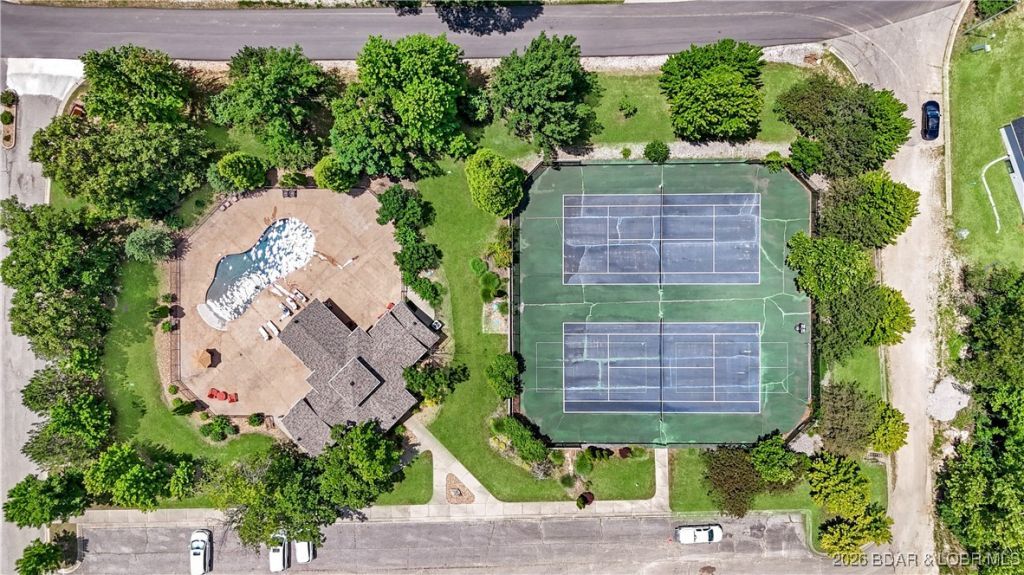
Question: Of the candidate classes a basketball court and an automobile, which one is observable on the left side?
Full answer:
What appears on the left side is an automobile.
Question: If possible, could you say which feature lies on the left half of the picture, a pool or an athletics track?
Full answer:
It is a pool that can be seen on the left half of the picture.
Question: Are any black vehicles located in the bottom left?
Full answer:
No, there is no black vehicle in the bottom left.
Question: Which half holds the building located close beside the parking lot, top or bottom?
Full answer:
It is in the bottom half that the building located close beside the parking lot appears.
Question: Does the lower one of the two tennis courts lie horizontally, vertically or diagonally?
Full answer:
The lower one of the two tennis courts is laid out horizontally.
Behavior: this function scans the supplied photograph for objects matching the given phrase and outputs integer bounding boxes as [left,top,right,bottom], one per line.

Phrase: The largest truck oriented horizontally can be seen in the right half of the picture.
[675,523,722,545]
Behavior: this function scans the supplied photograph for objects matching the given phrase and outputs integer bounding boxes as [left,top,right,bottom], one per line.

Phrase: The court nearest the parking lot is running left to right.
[534,314,787,423]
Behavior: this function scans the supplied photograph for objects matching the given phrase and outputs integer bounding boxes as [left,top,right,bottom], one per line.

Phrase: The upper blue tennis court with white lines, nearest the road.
[563,184,761,293]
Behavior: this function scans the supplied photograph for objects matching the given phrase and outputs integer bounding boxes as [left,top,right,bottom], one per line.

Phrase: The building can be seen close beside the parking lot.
[278,298,440,456]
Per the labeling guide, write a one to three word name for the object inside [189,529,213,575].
car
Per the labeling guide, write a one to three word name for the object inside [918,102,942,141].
car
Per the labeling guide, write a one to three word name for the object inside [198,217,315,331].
swimming pool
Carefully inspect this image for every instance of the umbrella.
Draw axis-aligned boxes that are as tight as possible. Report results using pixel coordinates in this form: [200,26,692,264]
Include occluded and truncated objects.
[199,348,214,368]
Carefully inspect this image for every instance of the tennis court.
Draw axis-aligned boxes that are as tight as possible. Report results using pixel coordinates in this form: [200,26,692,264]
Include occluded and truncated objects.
[563,184,761,293]
[534,314,787,423]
